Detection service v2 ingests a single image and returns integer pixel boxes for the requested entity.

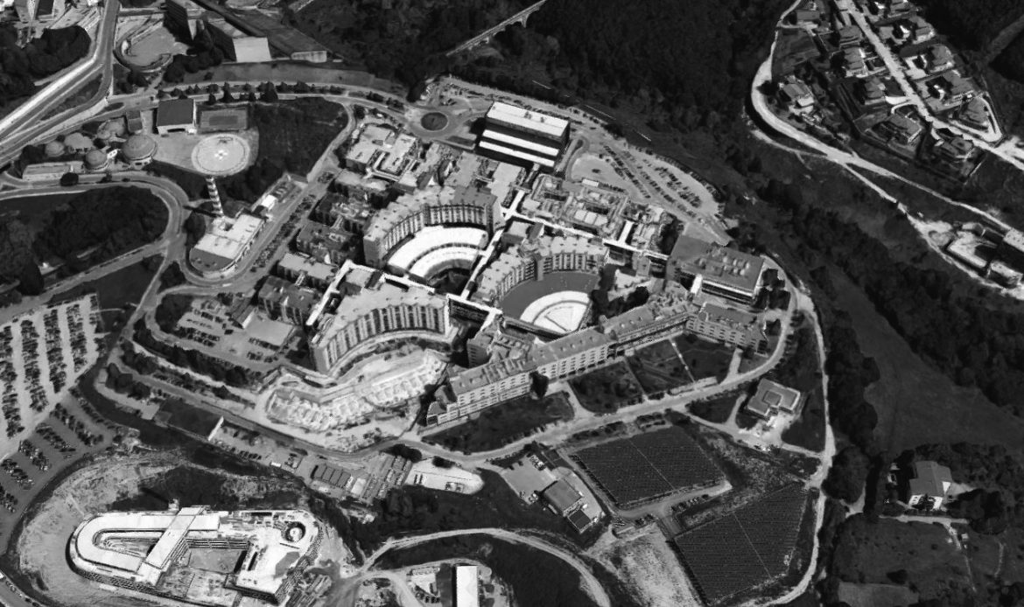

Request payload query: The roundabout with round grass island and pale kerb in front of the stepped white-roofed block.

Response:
[409,103,461,138]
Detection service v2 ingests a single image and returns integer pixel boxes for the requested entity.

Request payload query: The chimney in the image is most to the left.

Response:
[209,173,227,217]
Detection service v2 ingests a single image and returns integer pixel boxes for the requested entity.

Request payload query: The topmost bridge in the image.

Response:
[445,0,555,65]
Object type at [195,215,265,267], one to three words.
building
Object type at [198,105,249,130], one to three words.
sports court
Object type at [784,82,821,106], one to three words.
house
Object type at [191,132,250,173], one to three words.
helipad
